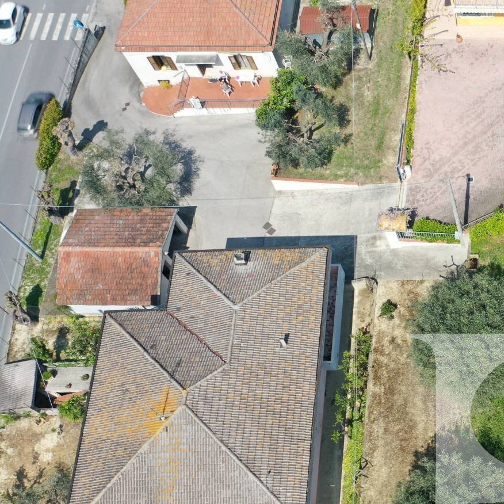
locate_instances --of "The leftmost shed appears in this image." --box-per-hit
[0,359,52,428]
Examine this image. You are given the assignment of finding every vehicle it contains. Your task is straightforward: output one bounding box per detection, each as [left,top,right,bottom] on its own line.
[0,5,25,42]
[14,94,51,136]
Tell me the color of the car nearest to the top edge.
white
